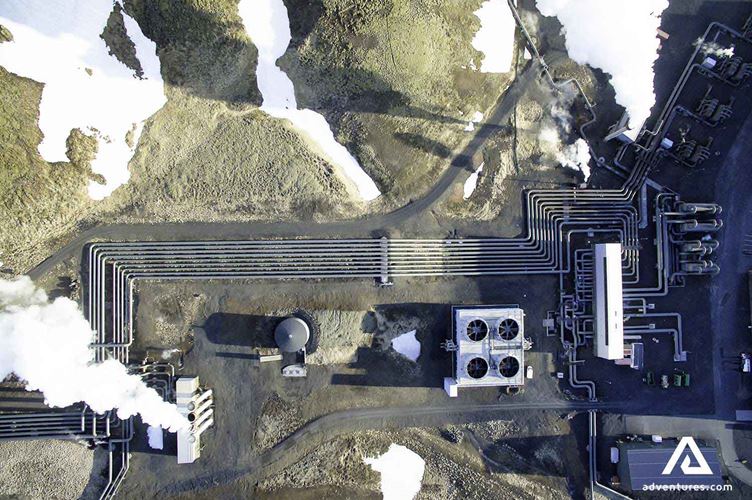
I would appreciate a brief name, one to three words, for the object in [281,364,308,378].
building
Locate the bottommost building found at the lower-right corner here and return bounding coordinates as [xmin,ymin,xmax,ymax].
[614,438,723,491]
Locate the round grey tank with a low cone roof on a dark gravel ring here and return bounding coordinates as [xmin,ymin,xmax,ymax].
[273,315,311,353]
